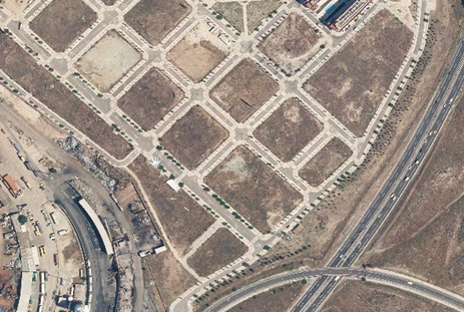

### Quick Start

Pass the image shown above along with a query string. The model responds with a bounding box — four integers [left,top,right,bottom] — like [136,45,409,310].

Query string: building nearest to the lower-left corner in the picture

[19,273,33,312]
